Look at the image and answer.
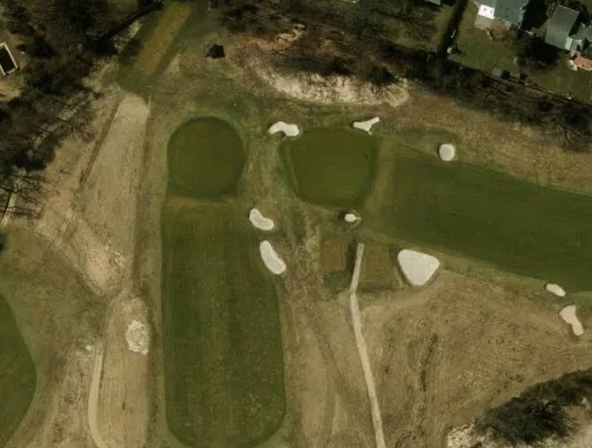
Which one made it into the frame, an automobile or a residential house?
residential house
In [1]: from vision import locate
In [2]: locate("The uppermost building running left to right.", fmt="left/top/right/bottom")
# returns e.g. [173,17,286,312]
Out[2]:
[478,0,529,23]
